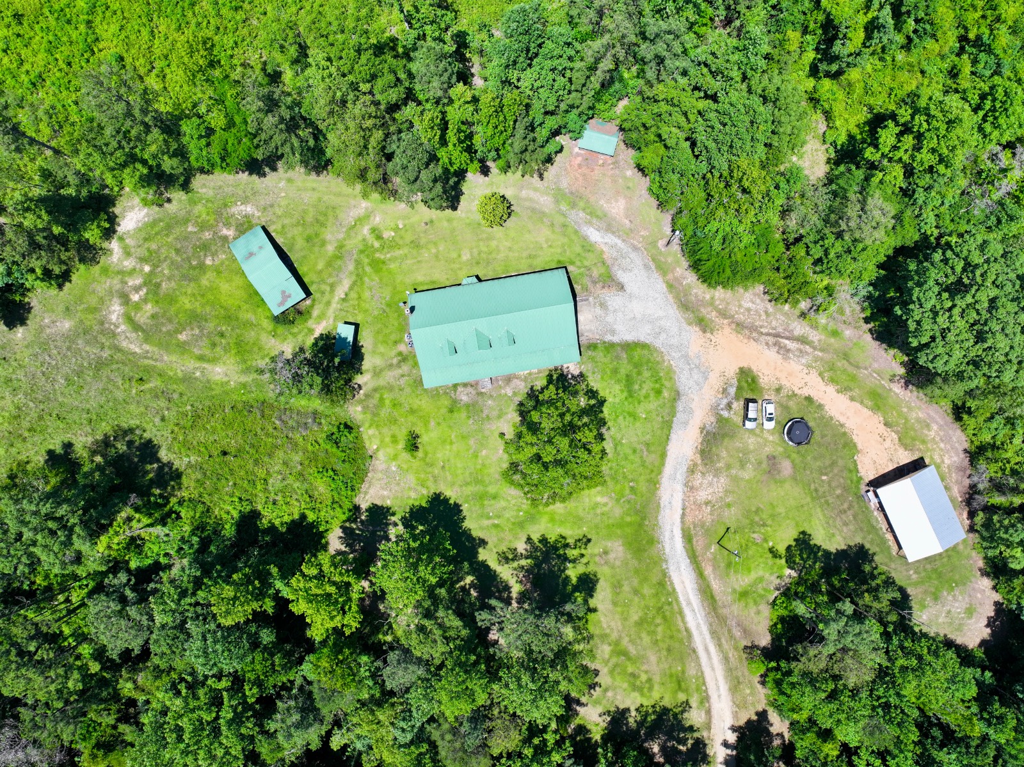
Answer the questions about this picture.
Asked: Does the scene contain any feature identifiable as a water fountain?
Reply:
No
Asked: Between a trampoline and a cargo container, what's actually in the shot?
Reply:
trampoline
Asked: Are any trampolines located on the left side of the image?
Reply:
No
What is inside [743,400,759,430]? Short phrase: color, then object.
white car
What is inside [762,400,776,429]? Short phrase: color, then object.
white car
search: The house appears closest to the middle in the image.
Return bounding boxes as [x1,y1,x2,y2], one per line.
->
[403,266,581,389]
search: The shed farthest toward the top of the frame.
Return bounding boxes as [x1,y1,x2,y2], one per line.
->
[580,121,620,159]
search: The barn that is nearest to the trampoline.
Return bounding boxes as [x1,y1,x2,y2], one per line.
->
[866,463,966,563]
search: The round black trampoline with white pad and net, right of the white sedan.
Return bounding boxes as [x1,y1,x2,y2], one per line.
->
[782,419,816,446]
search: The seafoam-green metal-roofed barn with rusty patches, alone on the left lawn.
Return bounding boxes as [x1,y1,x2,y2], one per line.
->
[229,225,310,316]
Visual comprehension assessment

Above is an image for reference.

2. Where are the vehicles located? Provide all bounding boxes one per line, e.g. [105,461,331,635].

[762,400,776,429]
[743,400,759,430]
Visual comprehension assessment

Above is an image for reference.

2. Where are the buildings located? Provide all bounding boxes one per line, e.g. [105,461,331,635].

[229,225,310,316]
[336,323,357,360]
[580,121,620,159]
[866,463,966,563]
[403,266,581,389]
